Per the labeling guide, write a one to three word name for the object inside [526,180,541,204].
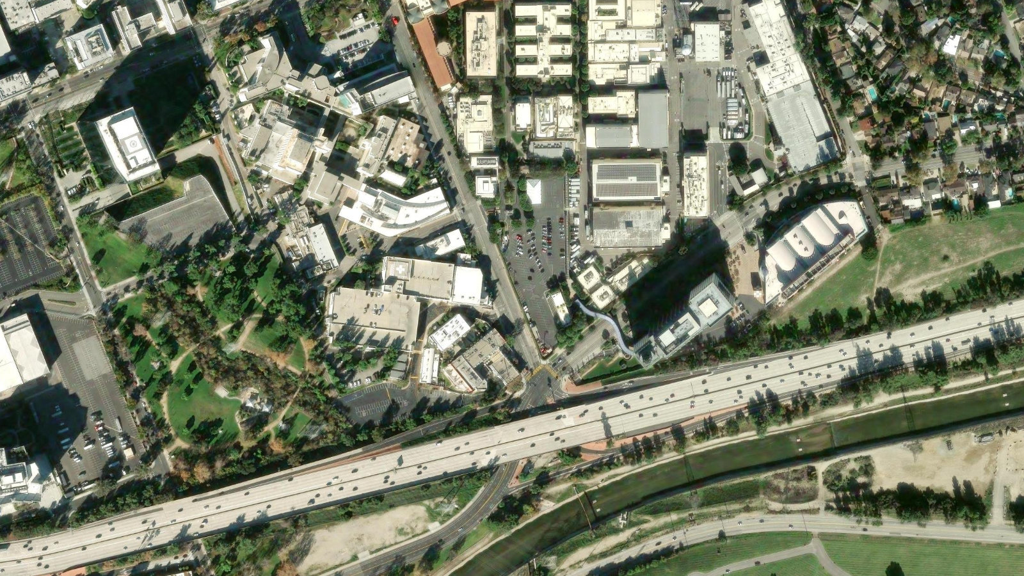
tent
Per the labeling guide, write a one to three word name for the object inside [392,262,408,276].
helipad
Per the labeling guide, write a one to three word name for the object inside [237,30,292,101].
building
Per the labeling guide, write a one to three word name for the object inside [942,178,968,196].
house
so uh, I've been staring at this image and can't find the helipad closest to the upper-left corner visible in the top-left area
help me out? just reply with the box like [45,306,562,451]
[124,136,143,153]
